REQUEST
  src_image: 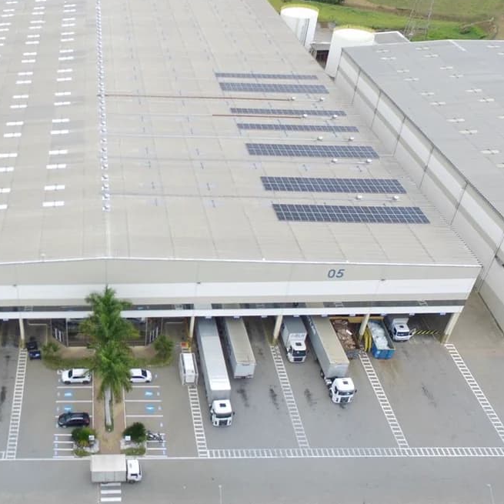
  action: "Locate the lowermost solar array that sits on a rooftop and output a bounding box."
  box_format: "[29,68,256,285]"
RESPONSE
[271,203,430,223]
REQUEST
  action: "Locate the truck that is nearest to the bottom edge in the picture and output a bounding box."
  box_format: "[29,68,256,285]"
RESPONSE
[94,452,149,484]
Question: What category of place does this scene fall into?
industrial area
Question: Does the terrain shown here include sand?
No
